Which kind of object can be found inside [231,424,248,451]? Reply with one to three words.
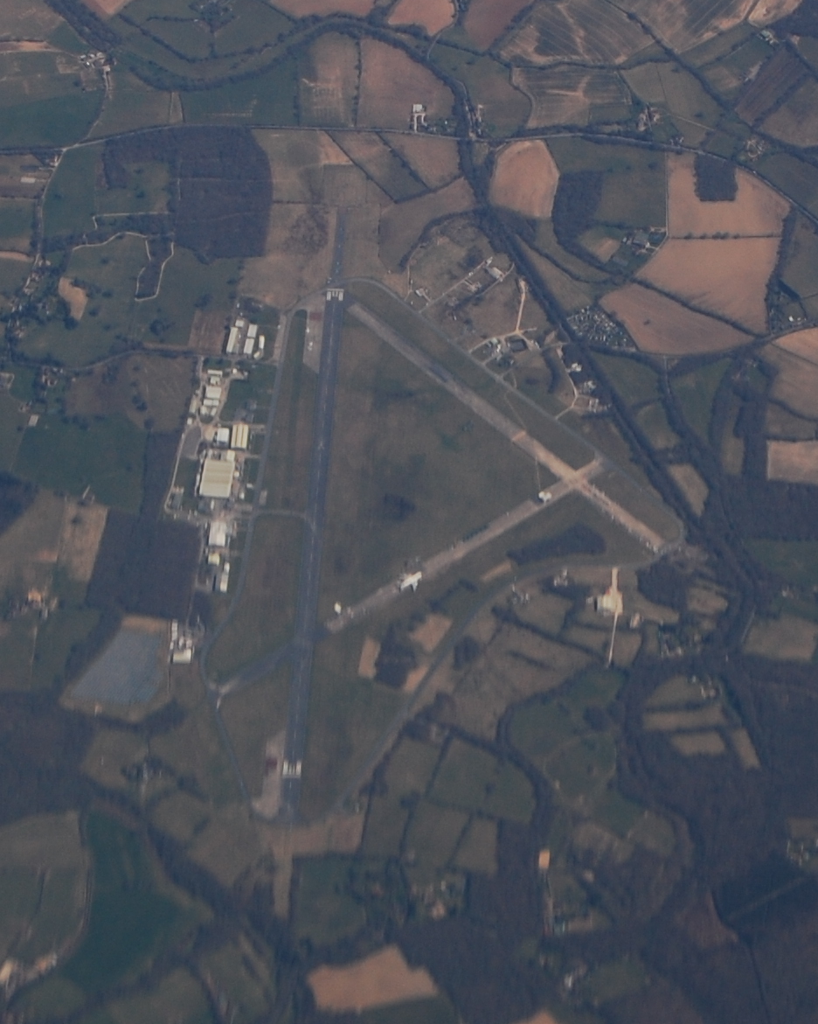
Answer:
hangar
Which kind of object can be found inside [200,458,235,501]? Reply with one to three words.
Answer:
hangar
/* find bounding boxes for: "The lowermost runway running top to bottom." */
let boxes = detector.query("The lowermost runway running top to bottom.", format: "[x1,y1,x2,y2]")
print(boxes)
[281,289,345,820]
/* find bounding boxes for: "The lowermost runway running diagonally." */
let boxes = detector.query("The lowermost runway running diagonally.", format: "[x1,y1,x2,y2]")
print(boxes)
[328,455,604,635]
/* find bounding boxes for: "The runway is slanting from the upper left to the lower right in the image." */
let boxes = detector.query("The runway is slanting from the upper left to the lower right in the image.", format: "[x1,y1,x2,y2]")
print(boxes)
[347,303,665,551]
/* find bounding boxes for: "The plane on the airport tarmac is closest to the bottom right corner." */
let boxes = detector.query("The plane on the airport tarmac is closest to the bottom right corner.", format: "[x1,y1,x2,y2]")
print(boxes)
[397,572,421,589]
